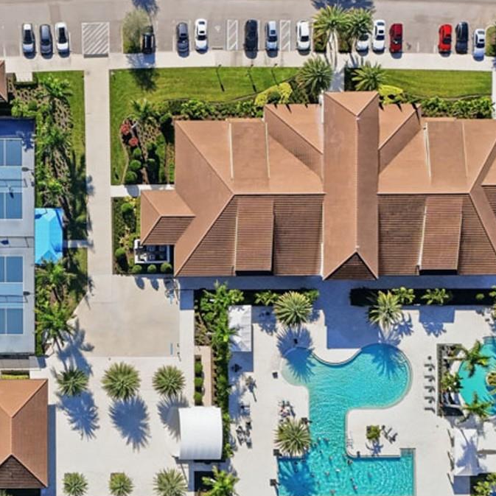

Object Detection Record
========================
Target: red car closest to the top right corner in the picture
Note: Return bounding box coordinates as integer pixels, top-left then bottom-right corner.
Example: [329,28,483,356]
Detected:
[436,22,453,55]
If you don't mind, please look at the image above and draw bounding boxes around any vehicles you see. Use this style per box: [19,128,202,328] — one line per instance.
[176,21,190,54]
[142,23,157,56]
[436,22,453,55]
[371,20,387,53]
[295,20,312,53]
[453,22,470,55]
[22,22,37,55]
[470,28,487,61]
[243,18,260,54]
[39,23,54,56]
[55,21,70,54]
[387,22,404,55]
[193,18,209,51]
[265,22,280,51]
